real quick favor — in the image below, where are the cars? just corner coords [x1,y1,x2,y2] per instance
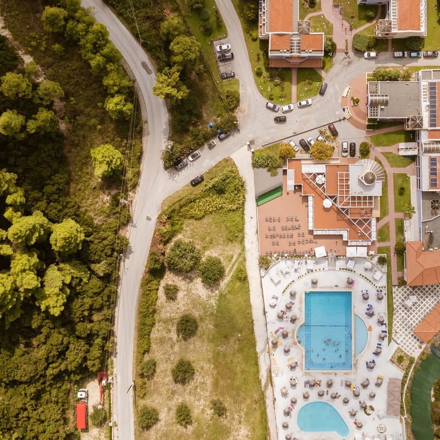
[175,160,189,170]
[287,139,300,153]
[342,142,347,157]
[394,52,407,58]
[188,150,202,161]
[329,123,339,137]
[349,142,356,157]
[299,137,309,151]
[215,131,230,141]
[297,100,312,107]
[364,53,377,59]
[190,175,204,187]
[265,102,279,112]
[424,52,438,58]
[218,54,233,61]
[206,140,218,149]
[273,116,287,123]
[217,44,232,52]
[319,82,328,97]
[281,104,294,112]
[222,72,235,79]
[409,52,422,58]
[306,135,313,147]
